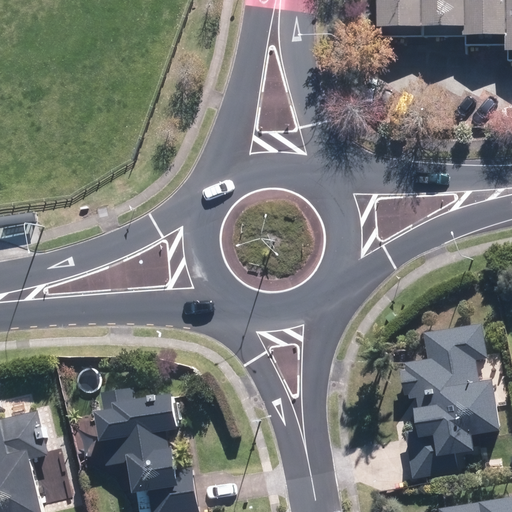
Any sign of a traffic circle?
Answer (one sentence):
Yes, the picture does show a traffic circle.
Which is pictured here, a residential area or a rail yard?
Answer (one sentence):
The area seen from above is a residential area.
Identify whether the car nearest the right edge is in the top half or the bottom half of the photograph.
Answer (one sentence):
The car nearest the right edge sits in the top half of the picture.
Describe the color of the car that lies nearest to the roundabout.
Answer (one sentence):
In this view, the car that lies nearest to the roundabout is white.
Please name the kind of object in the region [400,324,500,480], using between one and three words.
house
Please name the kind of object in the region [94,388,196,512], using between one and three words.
house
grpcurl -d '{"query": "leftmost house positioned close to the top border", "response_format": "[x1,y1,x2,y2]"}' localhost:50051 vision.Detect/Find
[376,0,422,38]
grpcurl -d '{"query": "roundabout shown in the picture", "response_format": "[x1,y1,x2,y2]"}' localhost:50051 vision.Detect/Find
[220,188,325,292]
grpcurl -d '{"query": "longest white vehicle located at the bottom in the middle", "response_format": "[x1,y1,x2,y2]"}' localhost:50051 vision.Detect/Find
[208,484,239,498]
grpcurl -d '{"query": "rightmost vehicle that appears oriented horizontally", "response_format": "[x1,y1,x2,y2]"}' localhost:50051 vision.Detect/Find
[416,170,452,185]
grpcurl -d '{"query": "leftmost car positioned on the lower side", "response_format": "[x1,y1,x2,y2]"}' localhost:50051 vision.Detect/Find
[183,301,215,317]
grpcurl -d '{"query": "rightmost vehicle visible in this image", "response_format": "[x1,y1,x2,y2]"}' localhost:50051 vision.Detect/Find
[474,92,502,125]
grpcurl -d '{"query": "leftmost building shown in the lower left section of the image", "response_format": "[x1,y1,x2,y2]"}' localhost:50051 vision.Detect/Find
[0,410,49,512]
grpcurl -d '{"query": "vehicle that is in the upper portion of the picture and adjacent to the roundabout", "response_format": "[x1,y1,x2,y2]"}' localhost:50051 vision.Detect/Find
[201,179,237,200]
